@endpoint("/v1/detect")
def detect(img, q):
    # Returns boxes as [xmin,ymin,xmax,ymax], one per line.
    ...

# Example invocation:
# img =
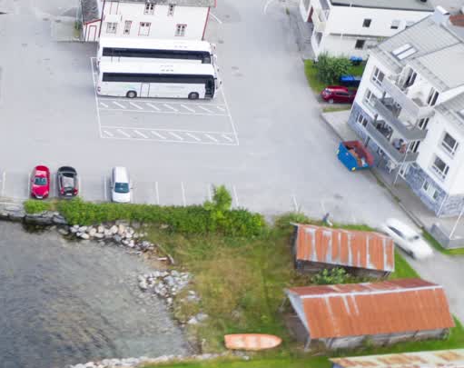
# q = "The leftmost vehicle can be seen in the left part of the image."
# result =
[27,165,52,198]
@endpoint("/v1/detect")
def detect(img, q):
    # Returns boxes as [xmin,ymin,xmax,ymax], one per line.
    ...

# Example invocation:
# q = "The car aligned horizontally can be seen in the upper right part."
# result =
[318,83,360,103]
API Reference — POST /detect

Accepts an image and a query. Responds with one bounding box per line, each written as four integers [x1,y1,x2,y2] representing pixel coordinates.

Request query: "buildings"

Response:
[328,351,464,368]
[348,11,464,216]
[278,278,462,353]
[288,221,397,277]
[78,0,216,45]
